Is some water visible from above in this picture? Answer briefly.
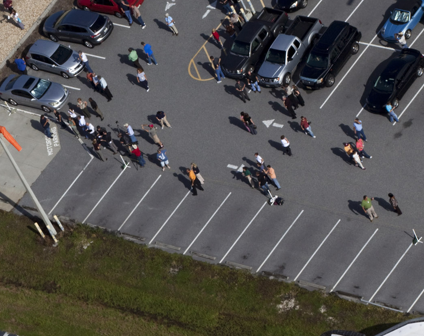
No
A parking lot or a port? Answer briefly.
parking lot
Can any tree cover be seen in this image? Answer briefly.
No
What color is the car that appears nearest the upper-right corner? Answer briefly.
blue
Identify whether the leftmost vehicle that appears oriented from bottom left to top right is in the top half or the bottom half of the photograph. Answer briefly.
top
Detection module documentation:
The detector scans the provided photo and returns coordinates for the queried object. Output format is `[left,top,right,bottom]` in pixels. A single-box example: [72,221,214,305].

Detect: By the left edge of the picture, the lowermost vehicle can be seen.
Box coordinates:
[0,73,71,114]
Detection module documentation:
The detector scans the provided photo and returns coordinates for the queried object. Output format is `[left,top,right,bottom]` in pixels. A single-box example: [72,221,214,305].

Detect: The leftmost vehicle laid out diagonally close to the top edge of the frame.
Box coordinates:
[214,2,288,82]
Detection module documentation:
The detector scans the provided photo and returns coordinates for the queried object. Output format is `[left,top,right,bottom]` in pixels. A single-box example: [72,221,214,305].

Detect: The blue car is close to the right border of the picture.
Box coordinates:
[379,0,424,41]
